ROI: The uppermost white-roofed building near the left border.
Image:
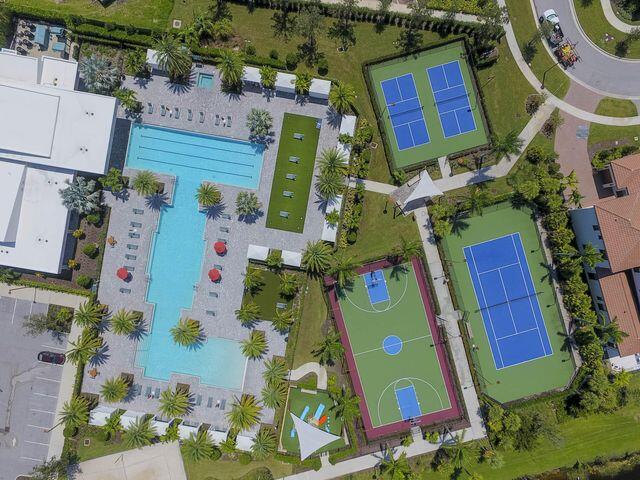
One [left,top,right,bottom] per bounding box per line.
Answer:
[0,48,118,274]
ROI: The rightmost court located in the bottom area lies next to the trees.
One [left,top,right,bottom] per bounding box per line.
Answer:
[444,204,576,405]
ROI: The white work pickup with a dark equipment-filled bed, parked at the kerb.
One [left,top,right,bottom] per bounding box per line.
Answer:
[546,7,569,42]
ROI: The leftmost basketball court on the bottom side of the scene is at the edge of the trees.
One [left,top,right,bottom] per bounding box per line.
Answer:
[322,255,461,441]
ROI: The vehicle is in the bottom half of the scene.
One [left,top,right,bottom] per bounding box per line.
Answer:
[36,351,63,366]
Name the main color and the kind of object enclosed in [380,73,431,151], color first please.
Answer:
blue sports court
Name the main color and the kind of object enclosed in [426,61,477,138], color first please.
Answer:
blue sports court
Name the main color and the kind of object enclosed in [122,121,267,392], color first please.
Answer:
blue swimming pool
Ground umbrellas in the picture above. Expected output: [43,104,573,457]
[214,241,226,254]
[117,267,130,279]
[209,268,221,280]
